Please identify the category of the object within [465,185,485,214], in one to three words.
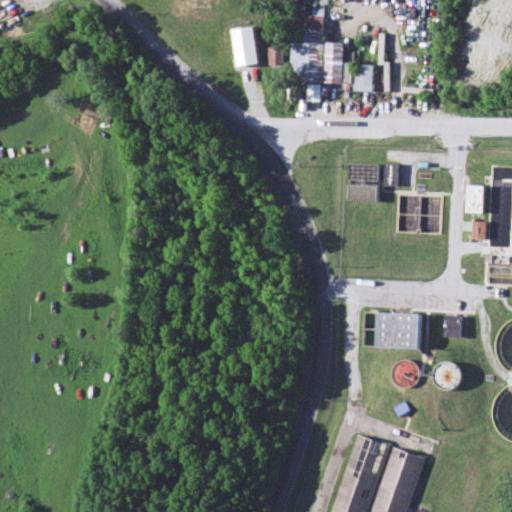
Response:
building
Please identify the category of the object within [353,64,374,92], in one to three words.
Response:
building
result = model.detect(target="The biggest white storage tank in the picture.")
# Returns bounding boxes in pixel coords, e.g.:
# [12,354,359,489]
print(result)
[433,362,463,390]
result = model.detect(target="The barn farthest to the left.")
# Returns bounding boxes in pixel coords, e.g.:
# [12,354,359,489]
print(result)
[230,26,258,69]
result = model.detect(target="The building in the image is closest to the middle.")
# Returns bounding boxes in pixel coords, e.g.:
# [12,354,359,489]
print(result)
[348,164,380,202]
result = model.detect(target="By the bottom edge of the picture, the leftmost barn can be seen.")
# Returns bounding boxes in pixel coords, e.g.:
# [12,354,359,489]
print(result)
[334,434,388,512]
